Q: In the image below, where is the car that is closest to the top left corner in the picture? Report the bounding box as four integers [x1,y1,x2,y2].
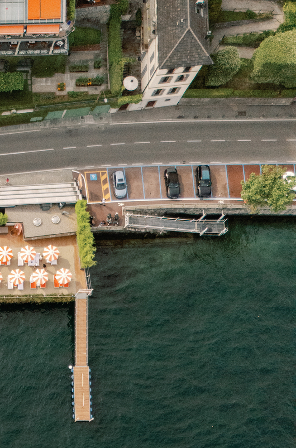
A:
[111,171,129,199]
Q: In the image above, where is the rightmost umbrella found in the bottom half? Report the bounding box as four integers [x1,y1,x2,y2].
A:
[54,269,73,286]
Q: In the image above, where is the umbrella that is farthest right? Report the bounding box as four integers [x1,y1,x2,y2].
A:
[120,74,142,93]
